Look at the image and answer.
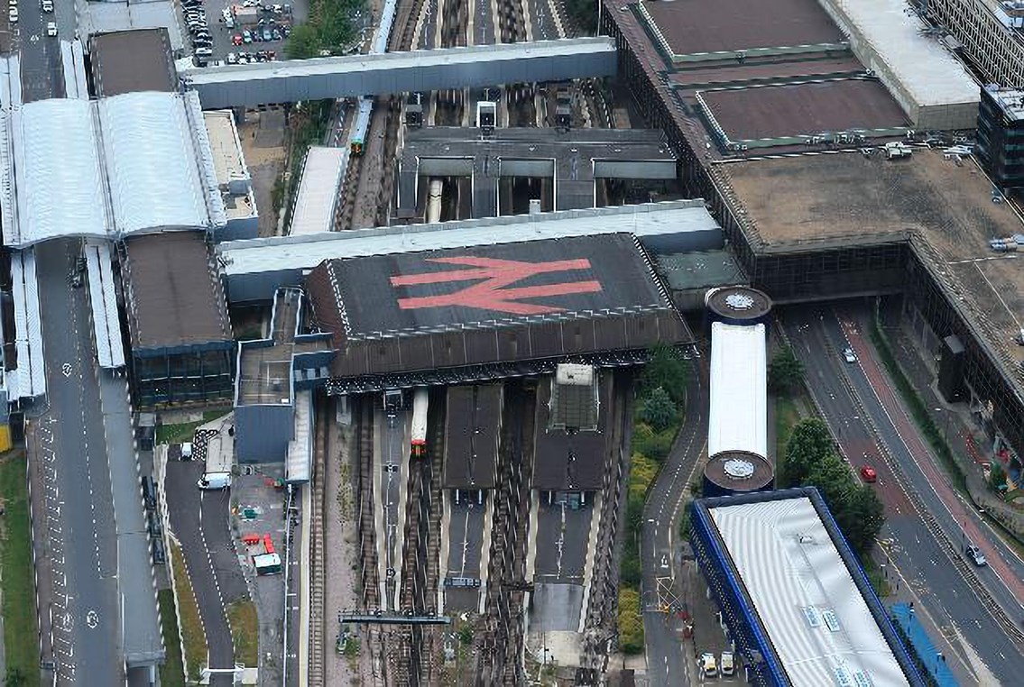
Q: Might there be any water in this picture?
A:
No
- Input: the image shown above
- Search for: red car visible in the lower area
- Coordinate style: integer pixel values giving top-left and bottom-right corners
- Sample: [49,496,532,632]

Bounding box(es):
[863,462,875,481]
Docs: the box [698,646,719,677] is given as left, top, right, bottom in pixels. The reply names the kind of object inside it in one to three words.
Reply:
vehicle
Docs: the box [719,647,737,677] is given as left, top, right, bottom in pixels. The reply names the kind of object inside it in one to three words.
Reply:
vehicle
